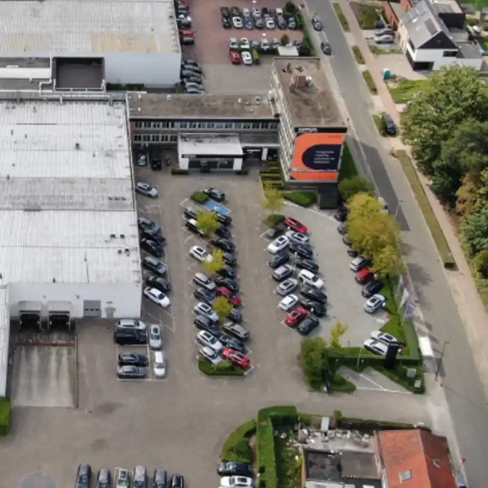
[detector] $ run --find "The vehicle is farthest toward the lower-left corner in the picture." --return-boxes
[75,464,91,488]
